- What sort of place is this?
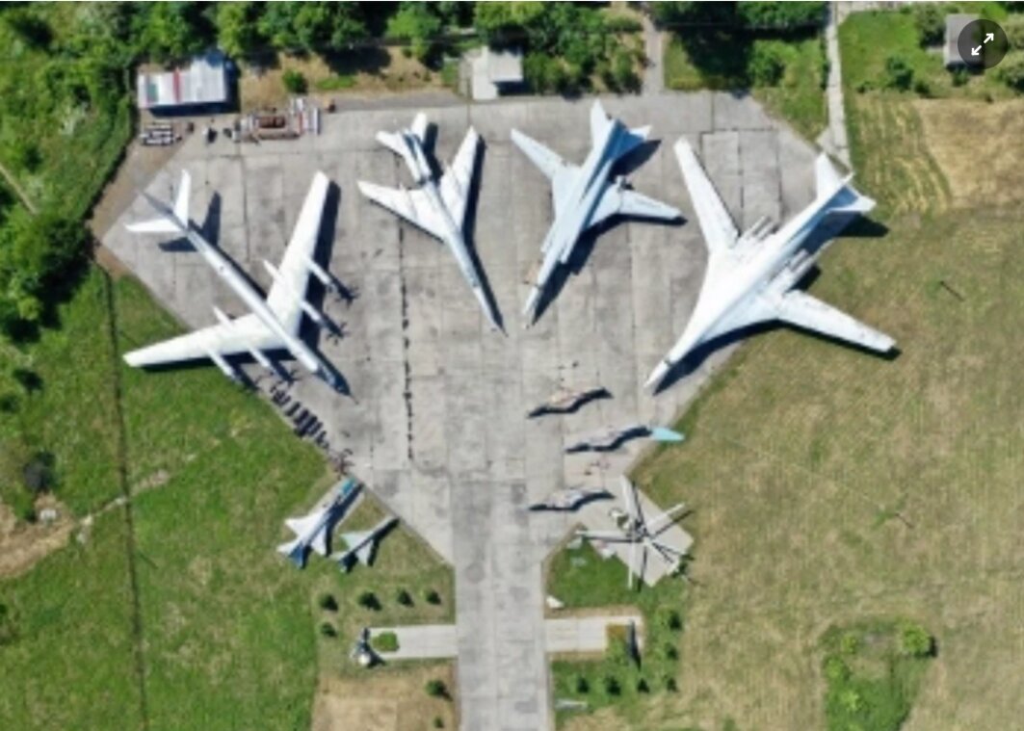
airport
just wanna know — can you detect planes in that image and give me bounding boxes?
[125,170,347,390]
[509,101,681,319]
[329,514,397,572]
[358,110,501,338]
[560,417,647,446]
[523,382,602,412]
[644,134,895,386]
[276,475,355,569]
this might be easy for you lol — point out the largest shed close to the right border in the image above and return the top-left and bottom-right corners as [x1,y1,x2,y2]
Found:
[940,14,984,66]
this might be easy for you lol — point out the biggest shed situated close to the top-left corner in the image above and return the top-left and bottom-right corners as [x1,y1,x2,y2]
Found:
[138,58,229,111]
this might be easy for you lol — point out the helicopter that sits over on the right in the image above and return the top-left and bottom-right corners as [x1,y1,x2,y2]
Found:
[575,473,689,590]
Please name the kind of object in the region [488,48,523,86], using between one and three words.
shed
